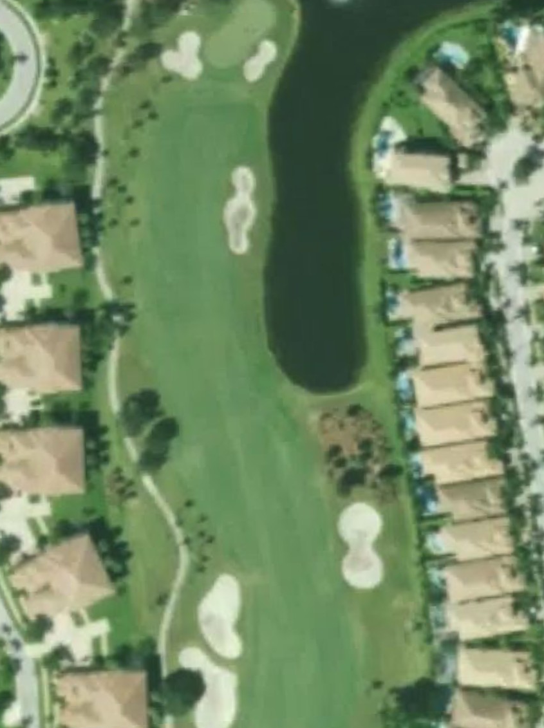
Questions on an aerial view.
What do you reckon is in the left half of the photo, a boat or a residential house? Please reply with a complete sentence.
It is a residential house that can be seen in the left half of the photo.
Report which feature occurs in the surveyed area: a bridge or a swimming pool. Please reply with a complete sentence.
Visible in the photo is a swimming pool.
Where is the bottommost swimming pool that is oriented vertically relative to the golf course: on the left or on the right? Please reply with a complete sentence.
Relative to the golf course, the bottommost swimming pool that is oriented vertically lies to the right.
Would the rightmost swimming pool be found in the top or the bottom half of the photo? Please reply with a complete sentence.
The top half of the photo is where the rightmost swimming pool is.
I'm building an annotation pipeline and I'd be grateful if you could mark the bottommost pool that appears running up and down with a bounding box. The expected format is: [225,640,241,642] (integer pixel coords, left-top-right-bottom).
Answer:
[436,642,457,682]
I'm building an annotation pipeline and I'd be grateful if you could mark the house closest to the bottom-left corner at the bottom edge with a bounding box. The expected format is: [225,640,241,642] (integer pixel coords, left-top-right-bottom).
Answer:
[62,671,151,728]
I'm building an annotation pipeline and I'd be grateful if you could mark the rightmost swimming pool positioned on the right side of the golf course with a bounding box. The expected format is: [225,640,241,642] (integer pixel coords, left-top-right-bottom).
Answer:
[499,23,529,61]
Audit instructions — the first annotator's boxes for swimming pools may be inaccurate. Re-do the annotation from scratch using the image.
[434,43,469,69]
[389,238,408,269]
[436,642,457,682]
[375,118,406,180]
[499,23,529,61]
[387,286,407,322]
[416,486,439,515]
[402,412,417,440]
[426,530,446,555]
[427,569,446,600]
[395,327,414,358]
[411,452,424,477]
[397,372,416,400]
[377,192,394,229]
